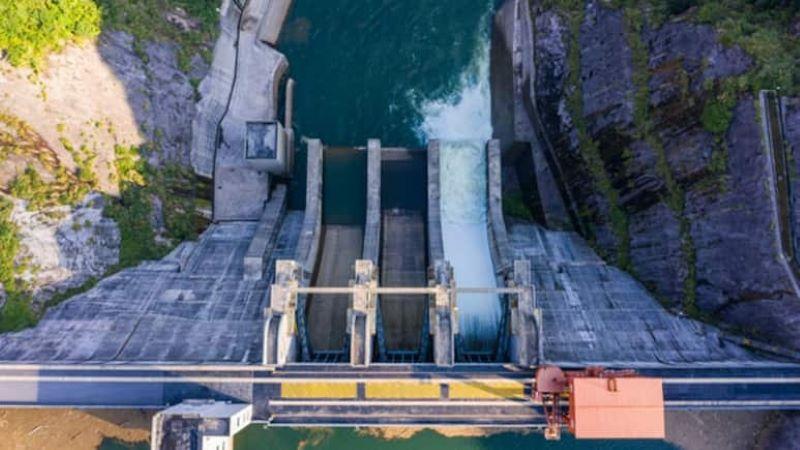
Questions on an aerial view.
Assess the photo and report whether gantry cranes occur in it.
Yes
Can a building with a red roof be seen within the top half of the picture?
No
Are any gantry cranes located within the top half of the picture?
No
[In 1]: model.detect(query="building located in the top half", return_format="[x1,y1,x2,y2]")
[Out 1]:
[245,121,286,171]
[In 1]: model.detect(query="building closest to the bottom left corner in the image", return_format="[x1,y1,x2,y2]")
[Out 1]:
[152,405,259,450]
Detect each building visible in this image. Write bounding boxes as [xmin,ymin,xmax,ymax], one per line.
[245,121,286,171]
[152,405,259,450]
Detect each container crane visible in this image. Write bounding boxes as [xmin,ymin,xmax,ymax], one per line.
[526,363,667,441]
